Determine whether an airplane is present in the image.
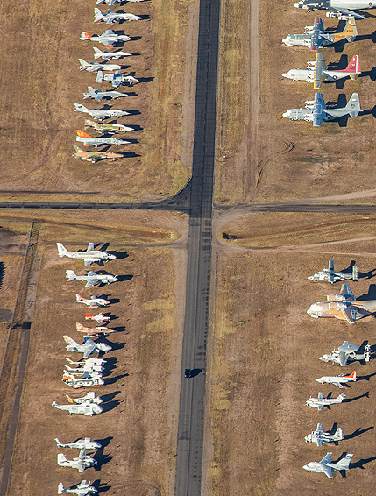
Yes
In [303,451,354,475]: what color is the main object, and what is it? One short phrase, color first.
white airplane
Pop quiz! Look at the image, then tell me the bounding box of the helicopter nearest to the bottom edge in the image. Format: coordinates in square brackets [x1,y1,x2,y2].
[55,438,102,452]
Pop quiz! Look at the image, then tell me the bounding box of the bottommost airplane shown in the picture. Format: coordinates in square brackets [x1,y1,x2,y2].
[60,480,97,496]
